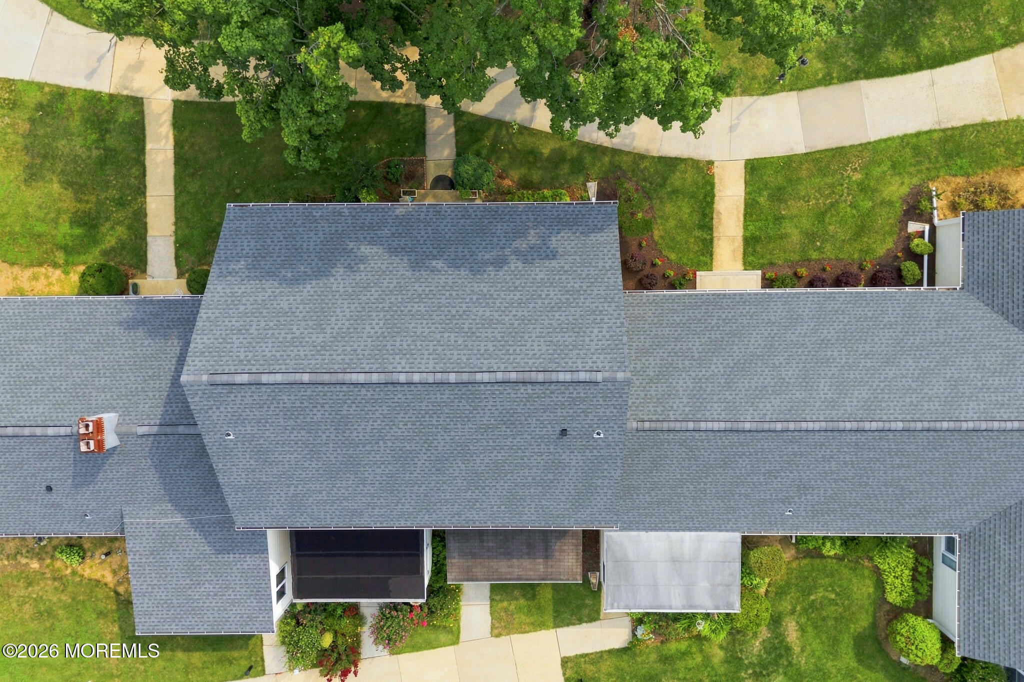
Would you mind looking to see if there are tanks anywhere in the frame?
No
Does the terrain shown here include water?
No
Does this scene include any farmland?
No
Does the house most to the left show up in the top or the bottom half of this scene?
bottom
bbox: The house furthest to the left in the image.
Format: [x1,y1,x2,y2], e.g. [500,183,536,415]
[0,295,294,636]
